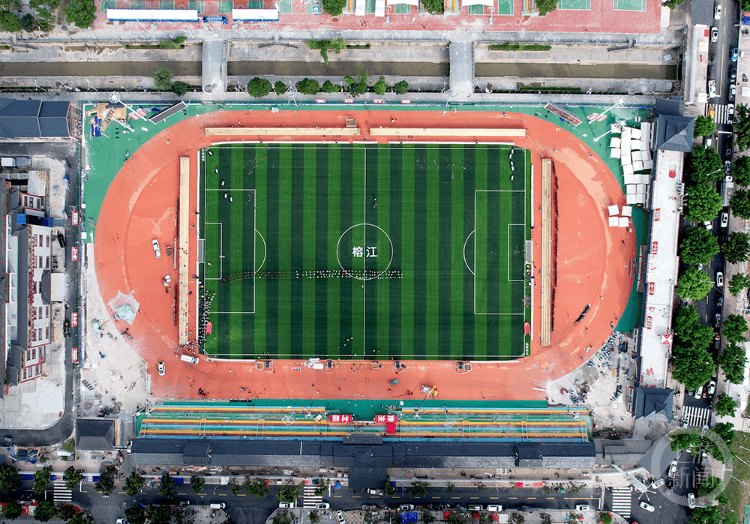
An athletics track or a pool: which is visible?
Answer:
athletics track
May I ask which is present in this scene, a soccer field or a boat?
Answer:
soccer field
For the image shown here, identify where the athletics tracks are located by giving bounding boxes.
[94,110,637,401]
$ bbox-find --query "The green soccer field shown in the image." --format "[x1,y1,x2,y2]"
[199,144,531,360]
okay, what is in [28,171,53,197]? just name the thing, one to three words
shed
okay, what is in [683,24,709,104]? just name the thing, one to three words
house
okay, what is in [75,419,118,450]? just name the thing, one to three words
building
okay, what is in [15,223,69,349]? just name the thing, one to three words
house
